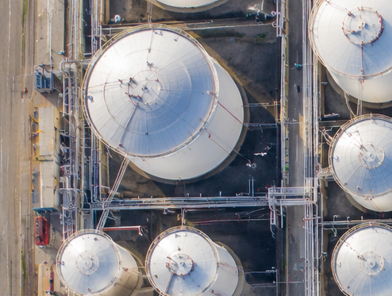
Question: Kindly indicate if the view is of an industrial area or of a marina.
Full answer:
This image shows an industrial area.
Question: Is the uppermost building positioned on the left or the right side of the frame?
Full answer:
The uppermost building sits on the left side.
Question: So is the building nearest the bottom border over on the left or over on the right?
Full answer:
The building nearest the bottom border appears in the left half of the scene.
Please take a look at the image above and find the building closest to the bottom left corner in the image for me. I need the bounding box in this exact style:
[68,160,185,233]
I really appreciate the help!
[29,158,64,213]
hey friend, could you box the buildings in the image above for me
[30,107,64,162]
[29,158,64,213]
